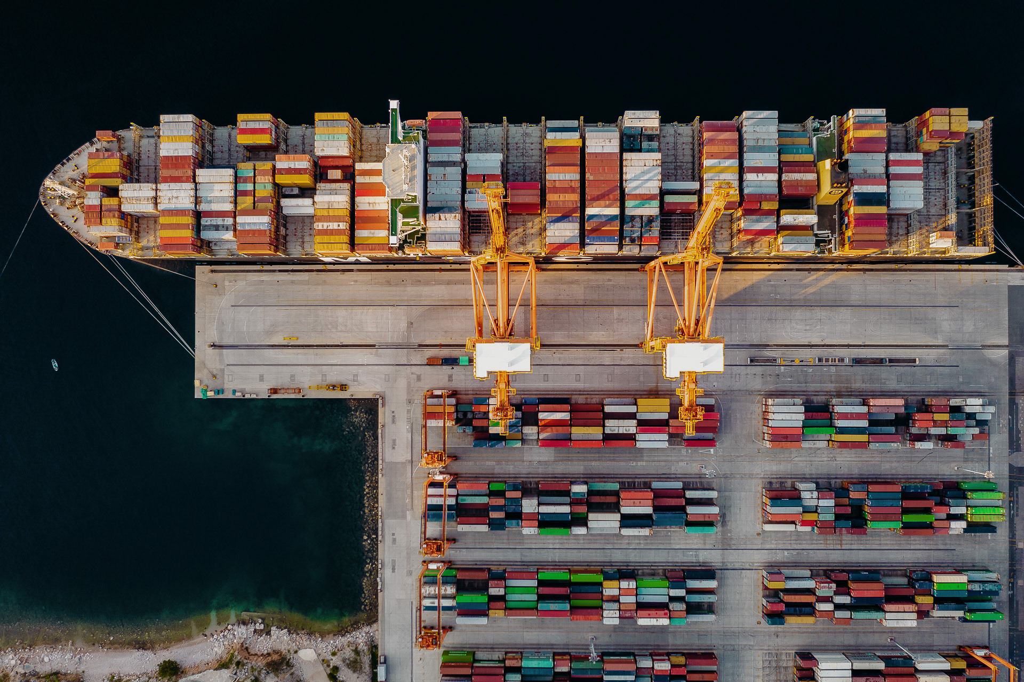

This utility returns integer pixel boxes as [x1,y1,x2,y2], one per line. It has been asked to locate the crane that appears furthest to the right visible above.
[961,648,1021,682]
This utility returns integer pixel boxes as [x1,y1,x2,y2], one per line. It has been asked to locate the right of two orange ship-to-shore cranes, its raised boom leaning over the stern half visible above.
[631,185,739,439]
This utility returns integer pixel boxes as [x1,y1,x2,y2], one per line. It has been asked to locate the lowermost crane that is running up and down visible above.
[411,562,454,654]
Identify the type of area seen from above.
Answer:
port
